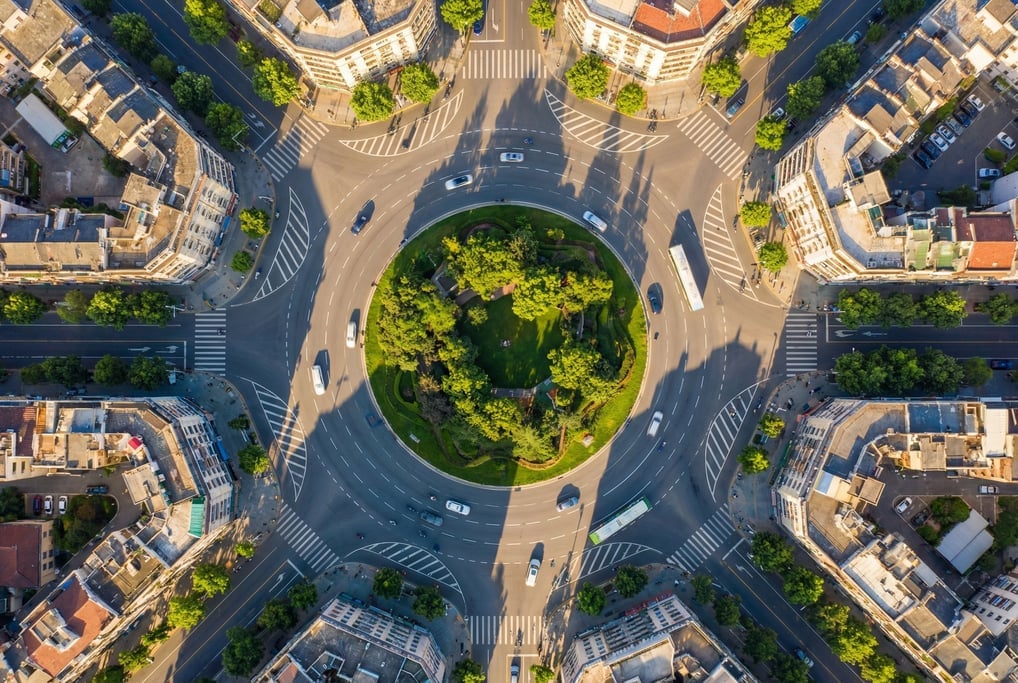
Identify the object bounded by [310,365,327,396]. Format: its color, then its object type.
white vehicle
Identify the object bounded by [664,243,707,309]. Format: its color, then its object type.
white bus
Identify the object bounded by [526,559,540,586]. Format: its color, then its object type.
white vehicle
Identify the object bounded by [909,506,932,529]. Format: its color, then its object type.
black car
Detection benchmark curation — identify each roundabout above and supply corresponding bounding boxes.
[196,34,818,656]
